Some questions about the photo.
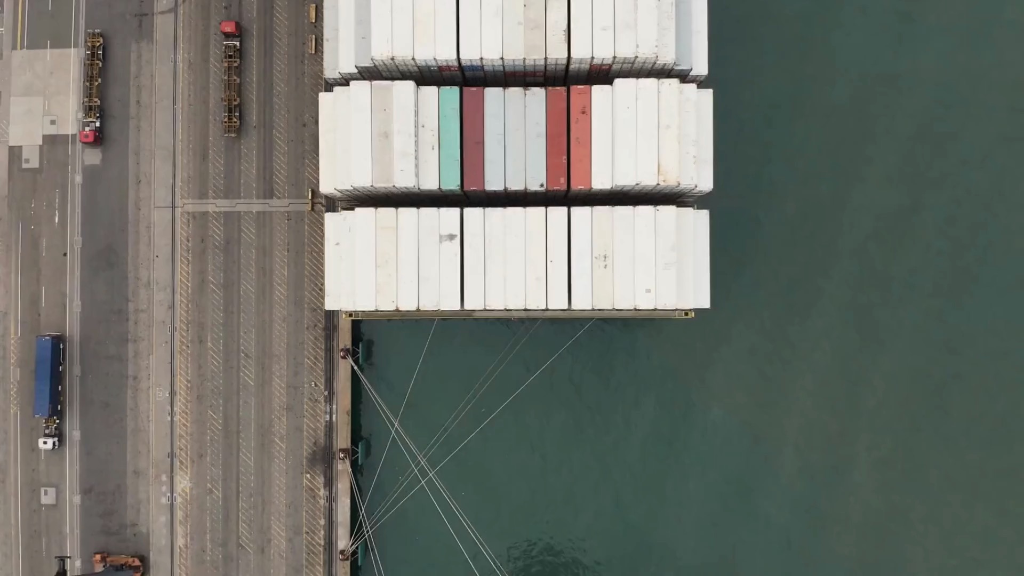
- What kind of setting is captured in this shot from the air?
port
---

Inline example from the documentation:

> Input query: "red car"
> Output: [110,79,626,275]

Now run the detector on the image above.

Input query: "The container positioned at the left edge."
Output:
[34,335,60,417]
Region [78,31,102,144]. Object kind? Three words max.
truck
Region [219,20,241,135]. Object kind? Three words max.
truck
